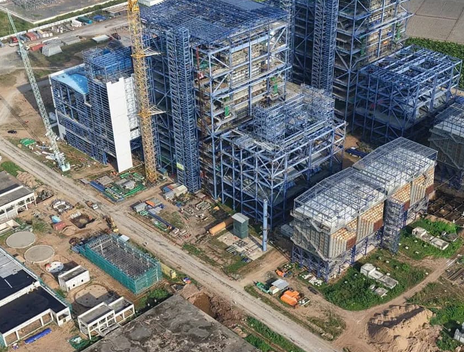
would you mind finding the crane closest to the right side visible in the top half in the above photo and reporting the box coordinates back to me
[128,0,174,183]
